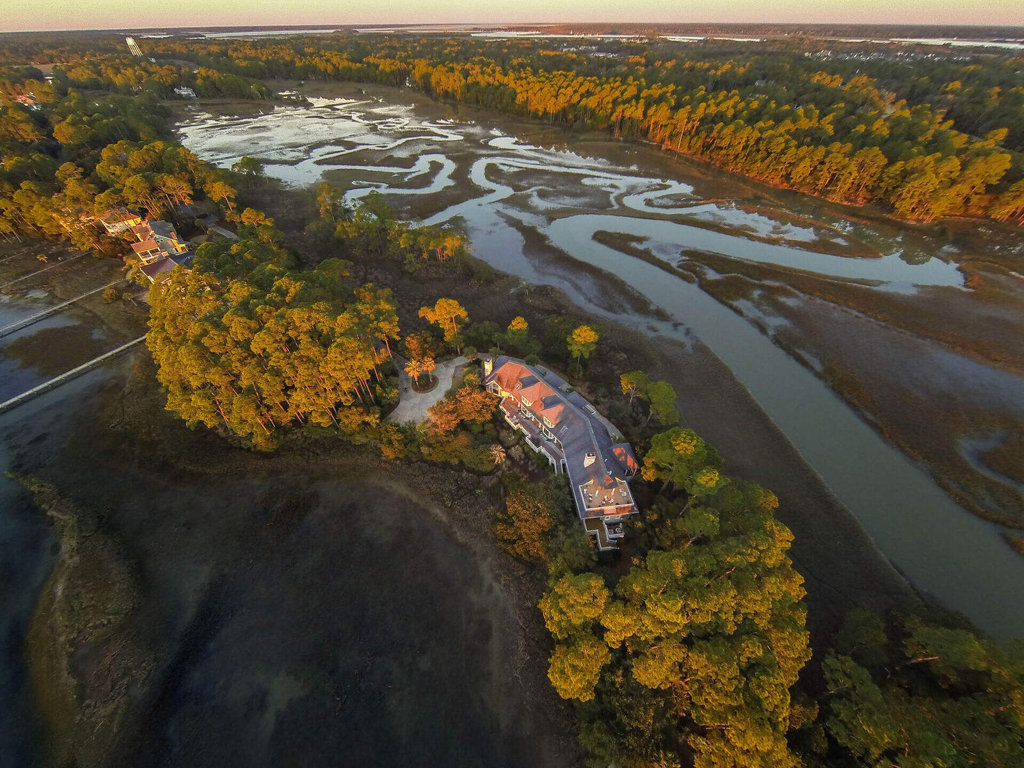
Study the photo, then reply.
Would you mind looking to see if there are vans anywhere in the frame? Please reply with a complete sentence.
No, the frame has no van in it.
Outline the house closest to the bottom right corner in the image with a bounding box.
[480,354,647,555]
